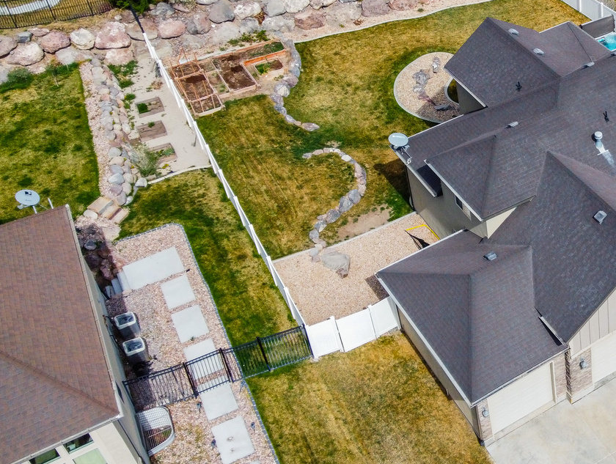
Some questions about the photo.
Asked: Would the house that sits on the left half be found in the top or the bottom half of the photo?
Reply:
bottom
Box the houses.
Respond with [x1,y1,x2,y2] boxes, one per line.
[0,206,138,464]
[373,18,616,452]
